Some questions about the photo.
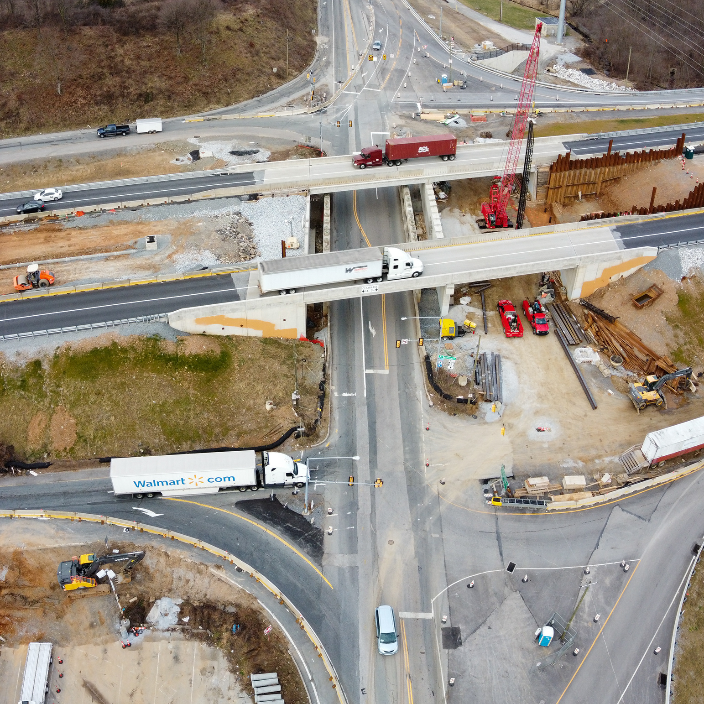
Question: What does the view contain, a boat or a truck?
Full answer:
The image shows a truck.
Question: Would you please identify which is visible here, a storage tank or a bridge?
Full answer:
Looking from above, you can make out a bridge.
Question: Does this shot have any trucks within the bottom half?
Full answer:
Yes, a truck can be seen within the bottom half.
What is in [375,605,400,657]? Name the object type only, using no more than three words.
car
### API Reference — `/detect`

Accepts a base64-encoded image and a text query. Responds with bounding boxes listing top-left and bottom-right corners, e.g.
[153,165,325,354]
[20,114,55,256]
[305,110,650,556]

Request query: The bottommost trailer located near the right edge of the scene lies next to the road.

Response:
[640,416,704,471]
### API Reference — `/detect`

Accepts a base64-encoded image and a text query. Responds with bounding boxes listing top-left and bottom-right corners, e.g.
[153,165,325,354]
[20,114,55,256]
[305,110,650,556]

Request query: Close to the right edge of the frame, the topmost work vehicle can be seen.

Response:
[626,364,696,412]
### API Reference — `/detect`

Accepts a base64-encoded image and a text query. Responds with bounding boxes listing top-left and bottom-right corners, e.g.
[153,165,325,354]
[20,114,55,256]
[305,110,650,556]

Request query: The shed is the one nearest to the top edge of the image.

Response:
[534,17,568,36]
